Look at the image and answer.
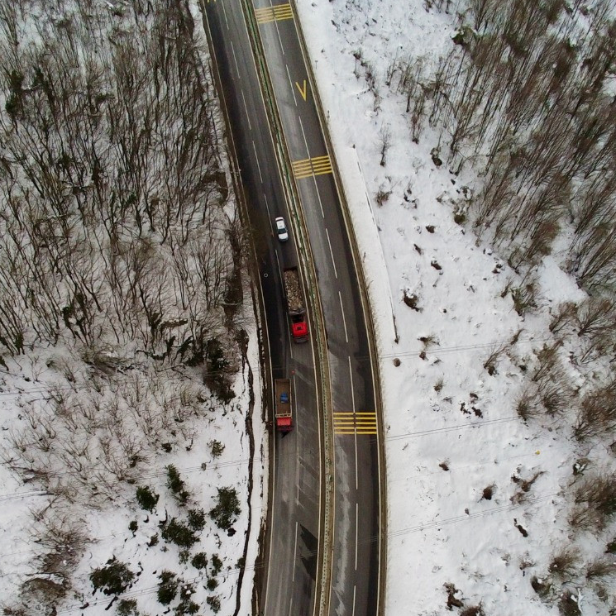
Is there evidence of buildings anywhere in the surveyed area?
No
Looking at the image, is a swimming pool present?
No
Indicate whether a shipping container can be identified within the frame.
No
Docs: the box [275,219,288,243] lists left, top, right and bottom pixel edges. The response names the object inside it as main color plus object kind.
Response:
white vehicle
